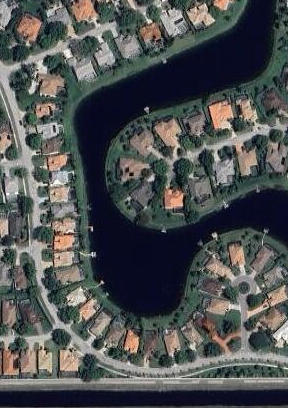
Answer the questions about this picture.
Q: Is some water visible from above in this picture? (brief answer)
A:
Yes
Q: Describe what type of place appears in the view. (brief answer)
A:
residential area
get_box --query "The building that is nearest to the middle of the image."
[125,180,152,207]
